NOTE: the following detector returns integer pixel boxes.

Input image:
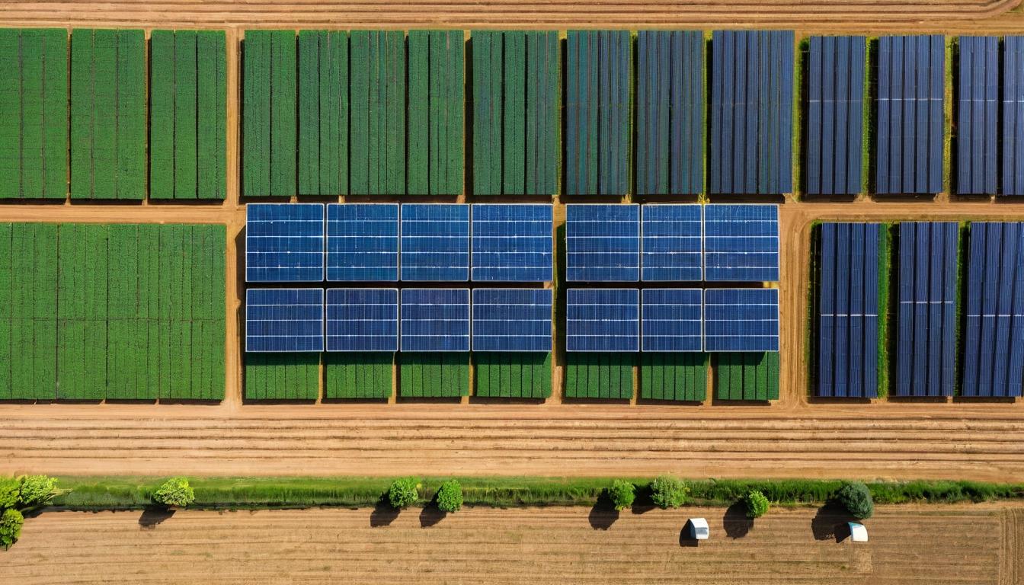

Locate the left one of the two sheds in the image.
[690,517,707,540]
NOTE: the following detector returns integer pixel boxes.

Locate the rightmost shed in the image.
[847,521,867,542]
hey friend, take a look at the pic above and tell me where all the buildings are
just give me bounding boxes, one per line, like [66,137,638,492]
[847,521,867,542]
[690,517,707,540]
